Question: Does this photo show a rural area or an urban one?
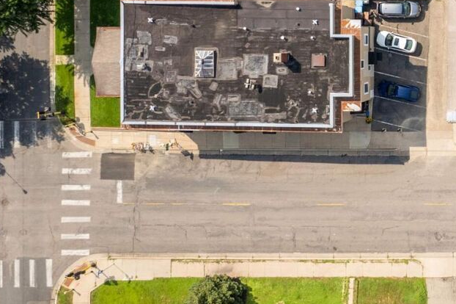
urban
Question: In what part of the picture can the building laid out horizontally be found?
top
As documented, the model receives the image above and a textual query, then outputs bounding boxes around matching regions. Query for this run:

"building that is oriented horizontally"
[92,0,375,133]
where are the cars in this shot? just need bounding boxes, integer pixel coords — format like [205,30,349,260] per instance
[377,0,419,20]
[376,31,417,53]
[378,80,420,101]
